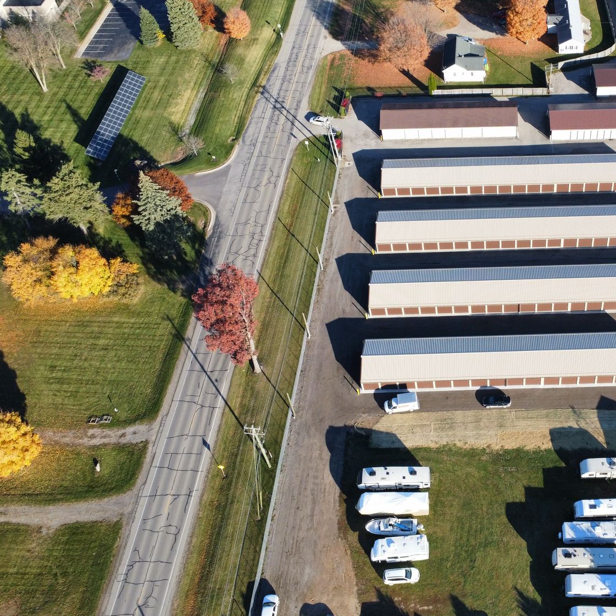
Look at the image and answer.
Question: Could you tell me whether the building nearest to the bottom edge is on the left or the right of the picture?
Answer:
right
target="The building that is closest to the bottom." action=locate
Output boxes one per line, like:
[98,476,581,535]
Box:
[360,333,616,397]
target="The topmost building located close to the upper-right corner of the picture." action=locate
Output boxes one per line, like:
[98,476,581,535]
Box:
[541,0,584,54]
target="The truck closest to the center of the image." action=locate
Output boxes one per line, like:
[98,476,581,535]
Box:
[384,392,422,418]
